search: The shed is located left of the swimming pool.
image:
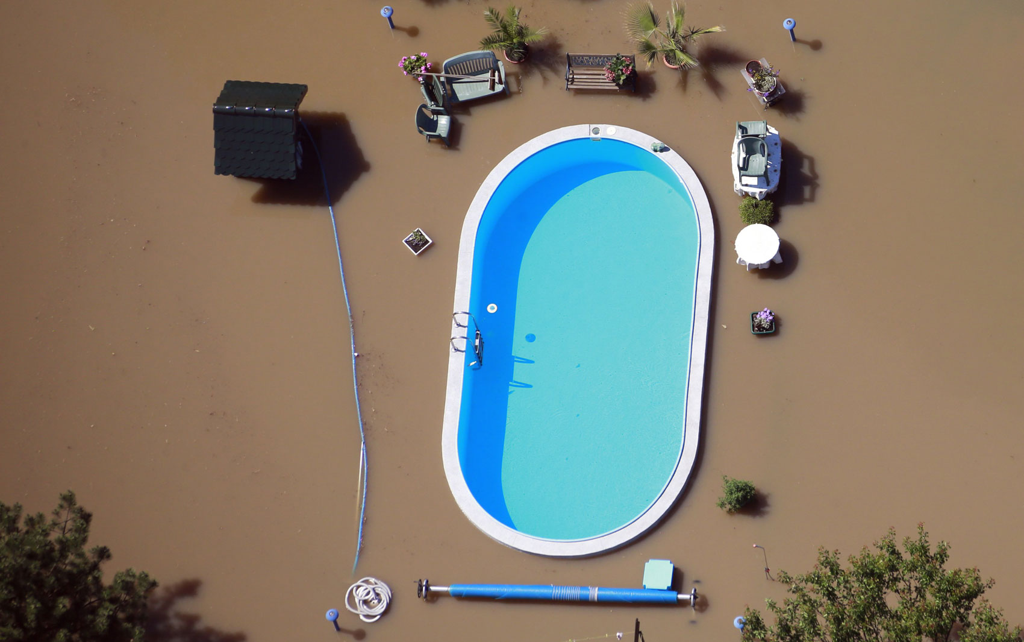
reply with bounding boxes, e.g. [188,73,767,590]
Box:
[214,80,312,179]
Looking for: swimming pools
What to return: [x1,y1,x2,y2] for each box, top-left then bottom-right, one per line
[442,124,714,559]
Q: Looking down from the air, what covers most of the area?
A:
water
